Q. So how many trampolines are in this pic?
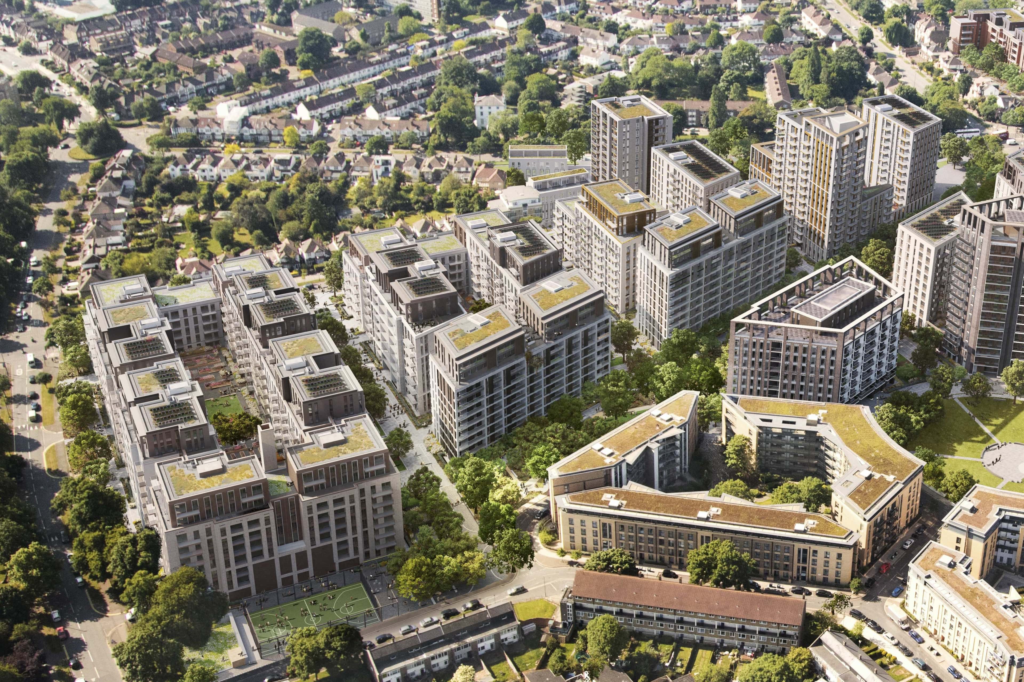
none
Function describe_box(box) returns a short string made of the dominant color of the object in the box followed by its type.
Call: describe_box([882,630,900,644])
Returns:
white car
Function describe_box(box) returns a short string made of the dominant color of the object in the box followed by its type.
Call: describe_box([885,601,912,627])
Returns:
white truck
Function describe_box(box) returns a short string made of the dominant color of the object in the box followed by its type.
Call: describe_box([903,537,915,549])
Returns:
gray vehicle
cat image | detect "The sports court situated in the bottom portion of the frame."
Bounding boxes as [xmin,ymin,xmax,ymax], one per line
[242,581,382,659]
